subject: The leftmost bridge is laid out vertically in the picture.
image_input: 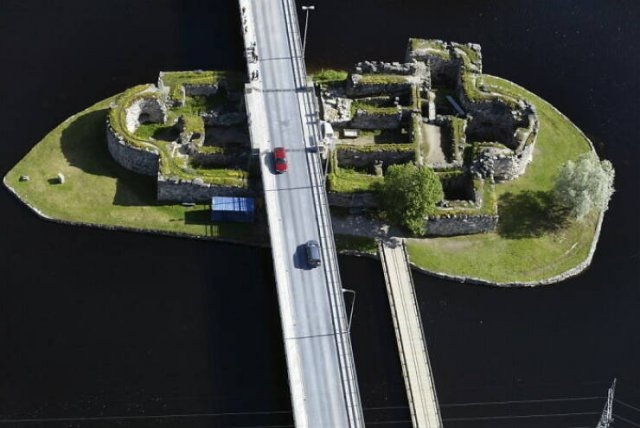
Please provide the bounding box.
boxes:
[239,0,365,428]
